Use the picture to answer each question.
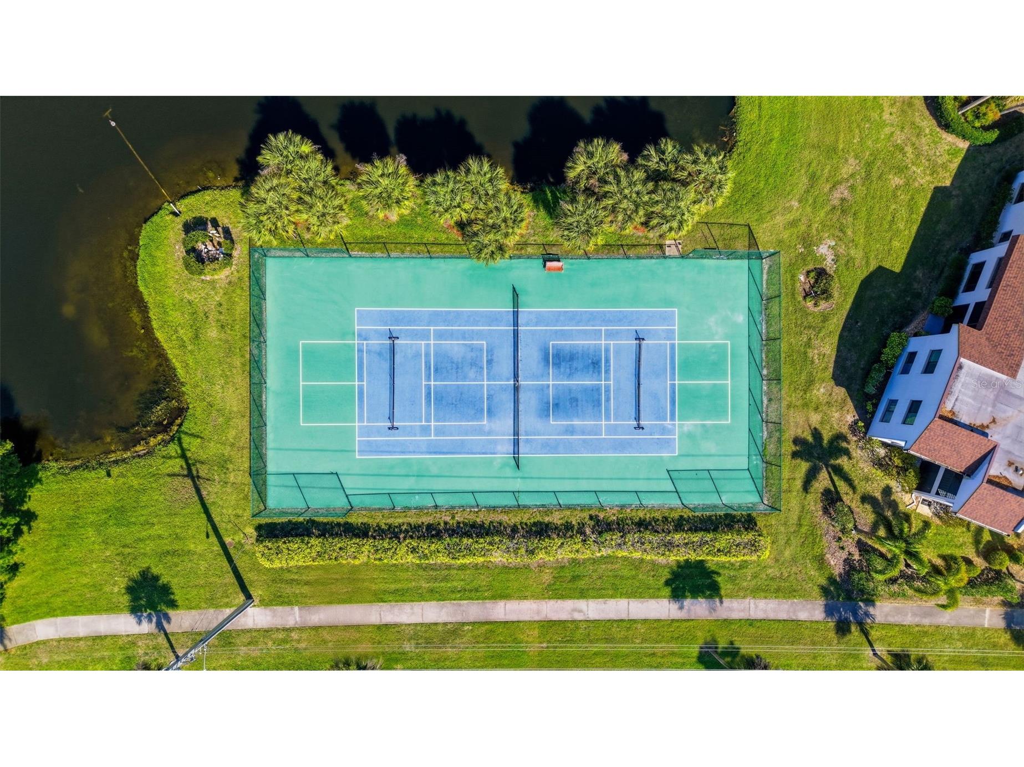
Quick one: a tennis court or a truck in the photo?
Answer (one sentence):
Visible in the photo is a tennis court.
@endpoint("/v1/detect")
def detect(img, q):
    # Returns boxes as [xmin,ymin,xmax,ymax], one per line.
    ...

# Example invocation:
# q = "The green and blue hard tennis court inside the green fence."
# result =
[265,257,764,510]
